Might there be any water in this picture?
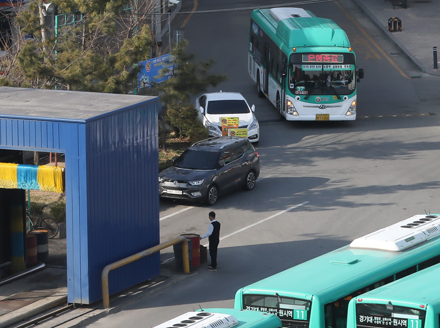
No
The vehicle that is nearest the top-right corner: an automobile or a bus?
bus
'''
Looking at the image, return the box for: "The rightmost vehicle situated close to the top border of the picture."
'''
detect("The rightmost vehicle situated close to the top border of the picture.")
[248,9,368,122]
